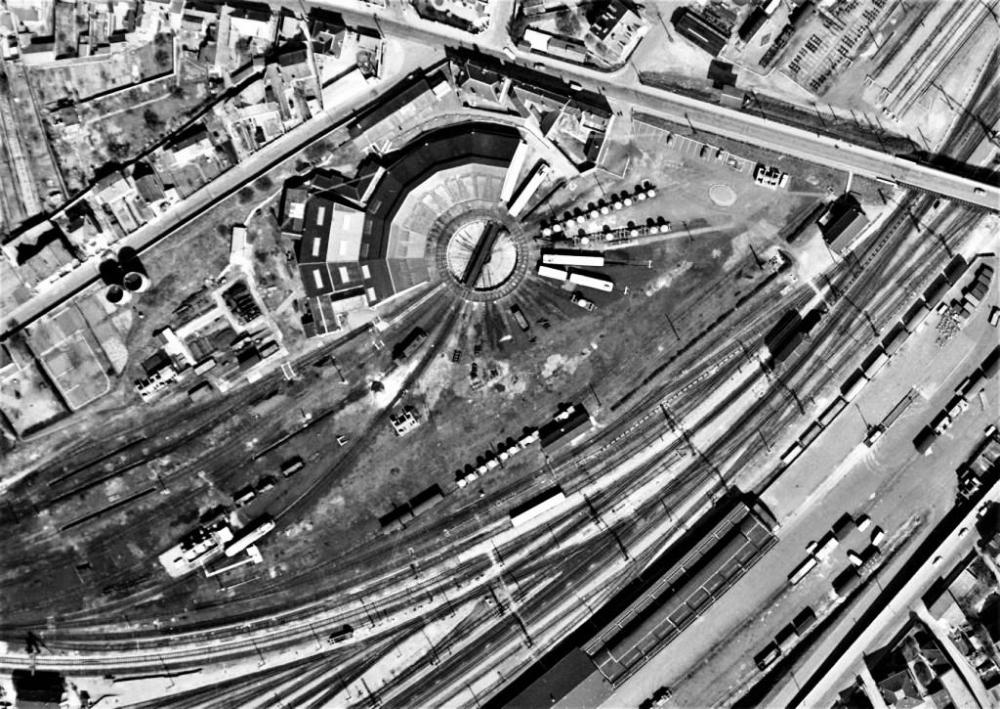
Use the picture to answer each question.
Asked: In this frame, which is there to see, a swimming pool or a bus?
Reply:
bus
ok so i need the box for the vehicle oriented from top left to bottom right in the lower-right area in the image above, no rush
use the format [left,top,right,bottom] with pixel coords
[848,553,864,566]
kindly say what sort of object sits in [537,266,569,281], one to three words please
vehicle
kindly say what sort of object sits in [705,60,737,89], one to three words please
building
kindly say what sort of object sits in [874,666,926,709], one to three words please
house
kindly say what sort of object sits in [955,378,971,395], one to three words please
vehicle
